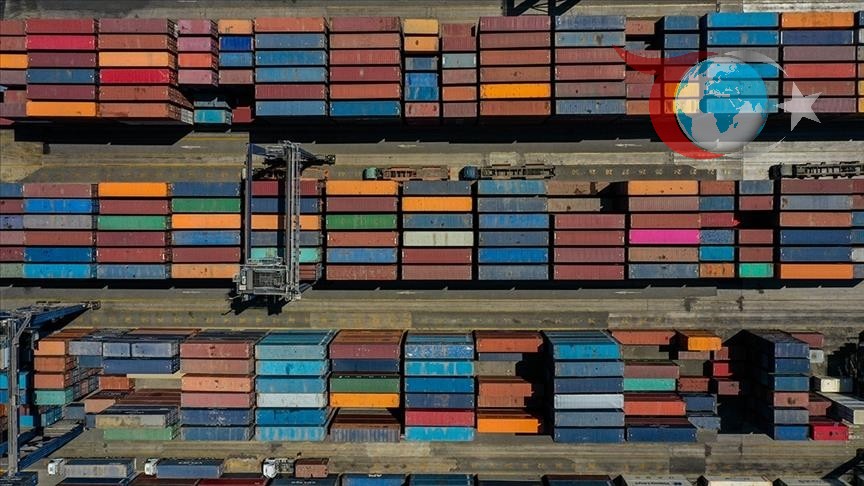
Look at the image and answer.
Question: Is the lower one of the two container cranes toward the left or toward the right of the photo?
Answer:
left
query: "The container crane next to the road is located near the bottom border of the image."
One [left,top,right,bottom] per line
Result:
[0,300,111,483]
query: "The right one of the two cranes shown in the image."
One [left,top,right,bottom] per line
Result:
[232,141,330,308]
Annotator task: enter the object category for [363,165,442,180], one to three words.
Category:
vehicle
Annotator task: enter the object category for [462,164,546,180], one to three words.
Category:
vehicle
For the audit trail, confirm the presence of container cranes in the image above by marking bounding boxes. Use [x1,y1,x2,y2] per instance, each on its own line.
[232,141,330,308]
[0,300,111,483]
